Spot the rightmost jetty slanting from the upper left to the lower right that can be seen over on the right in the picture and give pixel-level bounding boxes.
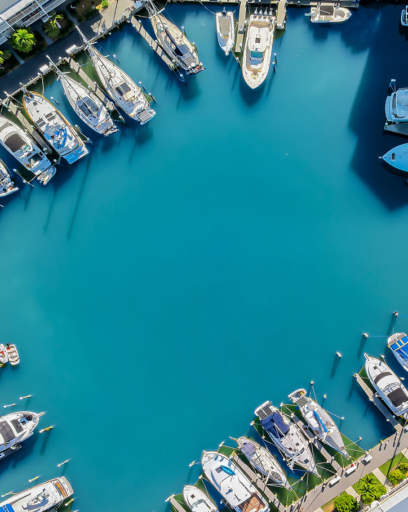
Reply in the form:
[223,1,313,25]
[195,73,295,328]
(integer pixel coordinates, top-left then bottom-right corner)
[355,375,403,430]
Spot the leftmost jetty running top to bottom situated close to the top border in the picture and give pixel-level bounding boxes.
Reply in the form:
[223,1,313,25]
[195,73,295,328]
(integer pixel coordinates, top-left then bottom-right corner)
[235,0,247,53]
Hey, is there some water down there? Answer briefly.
Yes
